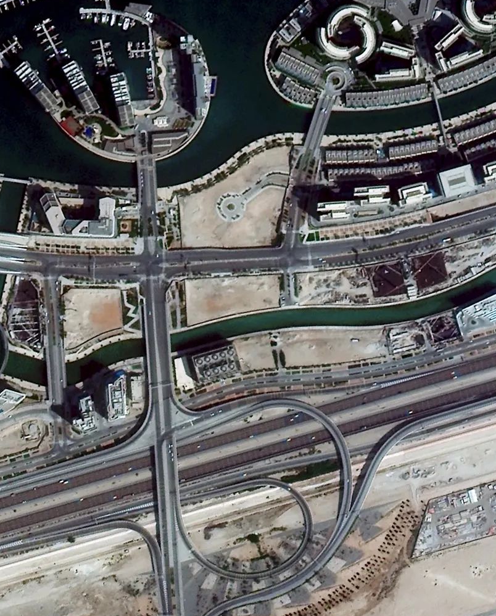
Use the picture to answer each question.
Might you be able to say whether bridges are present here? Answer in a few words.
Yes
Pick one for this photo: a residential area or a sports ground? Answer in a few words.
residential area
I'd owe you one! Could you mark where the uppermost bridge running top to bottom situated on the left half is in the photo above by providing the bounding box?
[135,150,157,199]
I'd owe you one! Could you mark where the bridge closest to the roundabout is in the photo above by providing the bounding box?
[296,91,336,172]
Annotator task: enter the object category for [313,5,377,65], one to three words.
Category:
building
